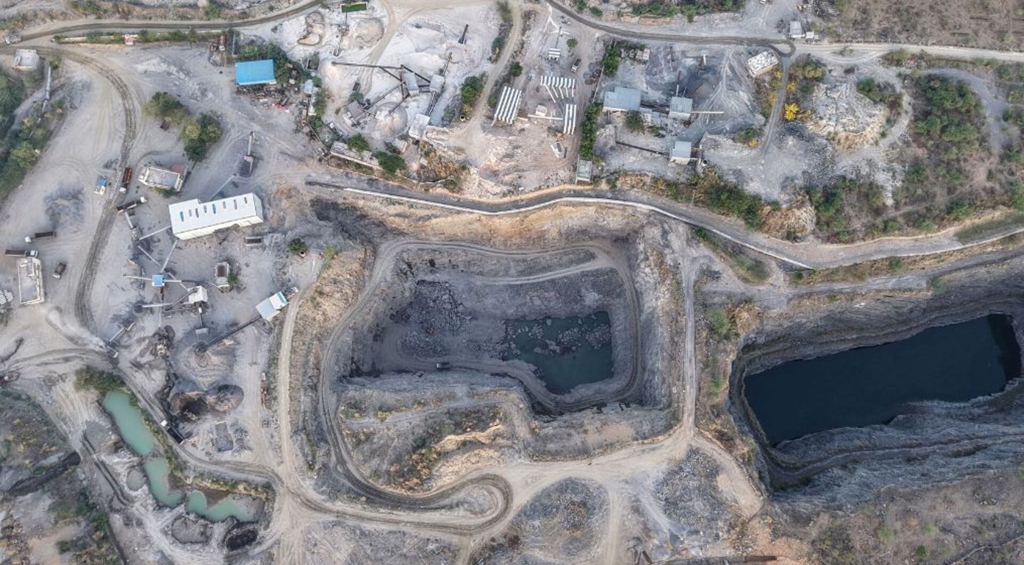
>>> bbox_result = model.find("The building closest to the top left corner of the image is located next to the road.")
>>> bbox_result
[14,49,44,72]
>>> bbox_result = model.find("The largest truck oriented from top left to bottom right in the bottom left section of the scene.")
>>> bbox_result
[156,417,185,446]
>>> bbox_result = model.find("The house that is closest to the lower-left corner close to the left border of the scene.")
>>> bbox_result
[18,258,52,307]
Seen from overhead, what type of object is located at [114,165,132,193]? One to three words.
vehicle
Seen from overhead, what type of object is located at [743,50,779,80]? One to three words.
house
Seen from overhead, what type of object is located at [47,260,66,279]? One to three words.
vehicle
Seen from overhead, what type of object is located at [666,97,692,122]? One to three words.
shed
